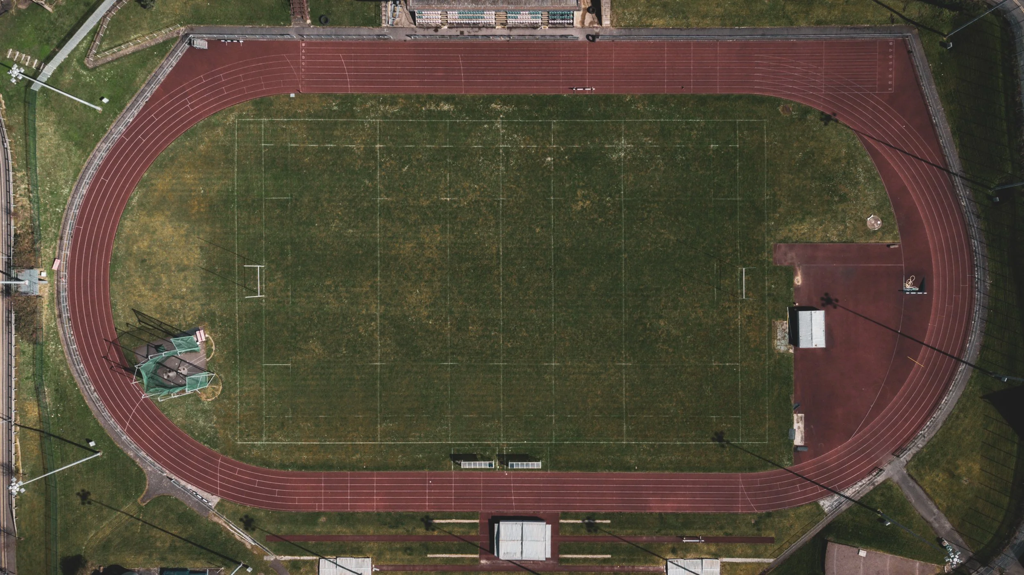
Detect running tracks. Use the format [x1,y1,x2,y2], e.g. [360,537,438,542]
[67,37,976,512]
